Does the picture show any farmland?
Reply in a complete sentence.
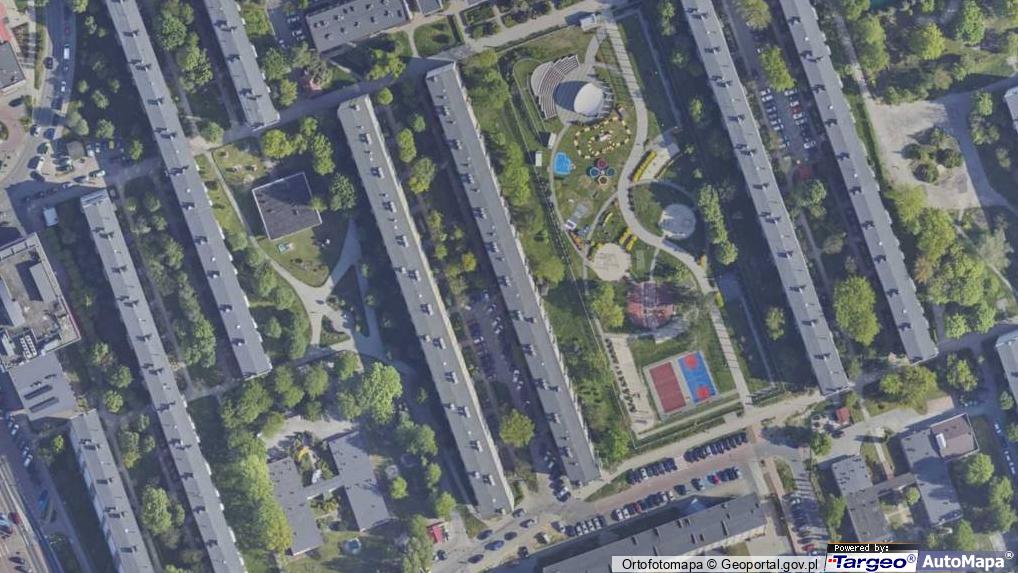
No, there's no farmland in this view.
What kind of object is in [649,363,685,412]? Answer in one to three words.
sports court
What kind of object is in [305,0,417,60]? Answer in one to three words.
building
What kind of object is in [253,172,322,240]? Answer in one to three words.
building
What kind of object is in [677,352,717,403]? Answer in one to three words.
basketball court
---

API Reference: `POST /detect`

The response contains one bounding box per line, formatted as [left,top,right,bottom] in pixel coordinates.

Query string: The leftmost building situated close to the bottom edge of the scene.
[71,407,158,573]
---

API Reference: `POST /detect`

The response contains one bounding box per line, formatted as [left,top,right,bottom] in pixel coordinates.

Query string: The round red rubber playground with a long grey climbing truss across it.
[627,282,672,331]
